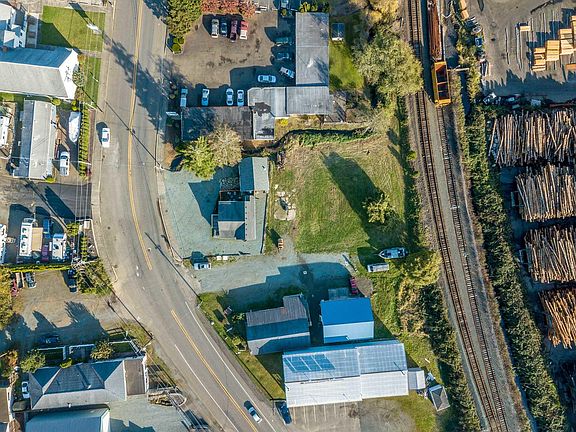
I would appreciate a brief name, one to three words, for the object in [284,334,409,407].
building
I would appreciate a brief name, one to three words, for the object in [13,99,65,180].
house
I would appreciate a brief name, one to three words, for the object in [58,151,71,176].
vehicle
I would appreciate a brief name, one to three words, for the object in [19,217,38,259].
camper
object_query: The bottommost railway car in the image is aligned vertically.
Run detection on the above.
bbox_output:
[430,62,452,109]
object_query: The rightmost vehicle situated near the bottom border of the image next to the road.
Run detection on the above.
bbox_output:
[279,402,291,425]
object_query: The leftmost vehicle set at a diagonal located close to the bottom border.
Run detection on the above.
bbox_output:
[247,404,264,426]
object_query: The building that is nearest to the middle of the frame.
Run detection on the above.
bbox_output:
[217,155,268,240]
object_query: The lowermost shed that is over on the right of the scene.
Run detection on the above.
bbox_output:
[427,382,451,412]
